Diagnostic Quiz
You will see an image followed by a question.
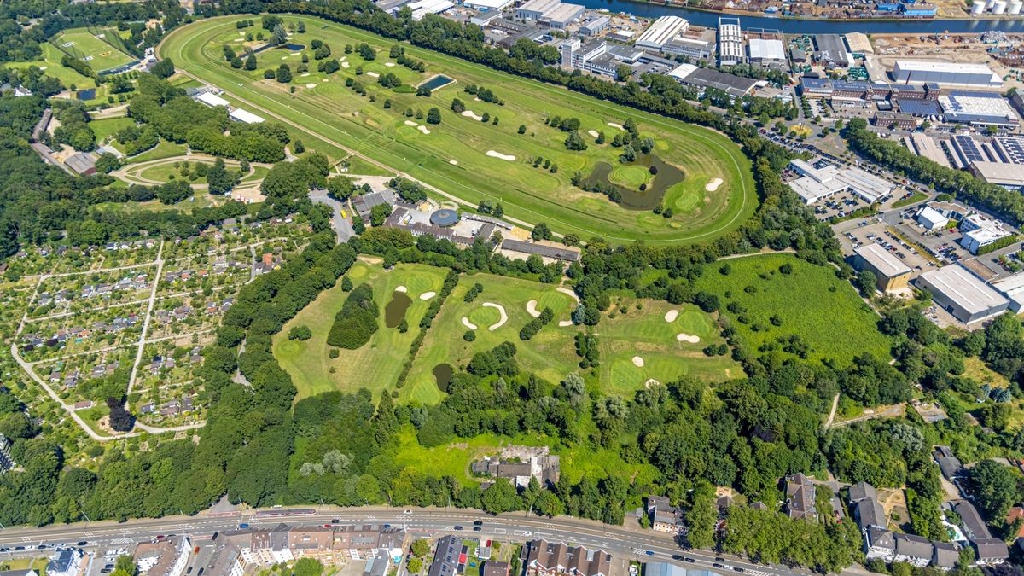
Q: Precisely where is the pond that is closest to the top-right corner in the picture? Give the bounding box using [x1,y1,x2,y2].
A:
[582,152,686,210]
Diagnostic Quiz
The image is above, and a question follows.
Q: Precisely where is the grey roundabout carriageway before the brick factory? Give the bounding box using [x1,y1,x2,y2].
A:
[775,119,827,143]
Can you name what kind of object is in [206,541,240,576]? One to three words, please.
house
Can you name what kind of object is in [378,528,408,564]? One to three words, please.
house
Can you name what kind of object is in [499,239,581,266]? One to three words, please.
building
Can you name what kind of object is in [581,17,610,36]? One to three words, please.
building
